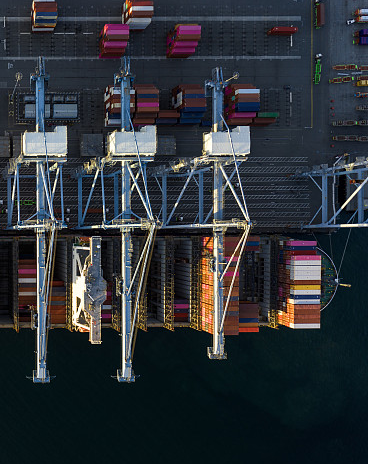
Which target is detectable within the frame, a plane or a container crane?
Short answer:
container crane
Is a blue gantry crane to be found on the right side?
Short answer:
Yes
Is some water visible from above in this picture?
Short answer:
Yes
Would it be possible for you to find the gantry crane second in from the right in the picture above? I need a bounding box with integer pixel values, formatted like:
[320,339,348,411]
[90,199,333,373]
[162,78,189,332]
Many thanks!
[146,55,265,361]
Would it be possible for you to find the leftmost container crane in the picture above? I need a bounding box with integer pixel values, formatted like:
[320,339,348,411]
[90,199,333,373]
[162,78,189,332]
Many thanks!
[1,55,65,385]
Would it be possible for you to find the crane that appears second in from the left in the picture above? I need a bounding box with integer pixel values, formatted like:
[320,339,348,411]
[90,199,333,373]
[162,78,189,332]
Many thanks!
[69,55,155,385]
